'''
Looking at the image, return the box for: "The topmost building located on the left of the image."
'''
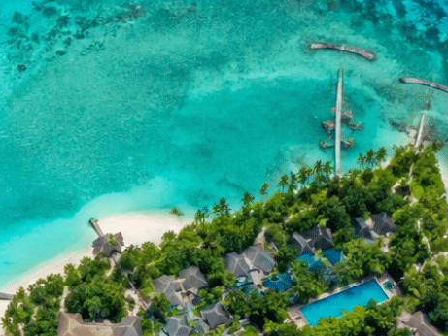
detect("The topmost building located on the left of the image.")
[91,235,122,261]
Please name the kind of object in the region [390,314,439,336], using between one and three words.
house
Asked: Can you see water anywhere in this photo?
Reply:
Yes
